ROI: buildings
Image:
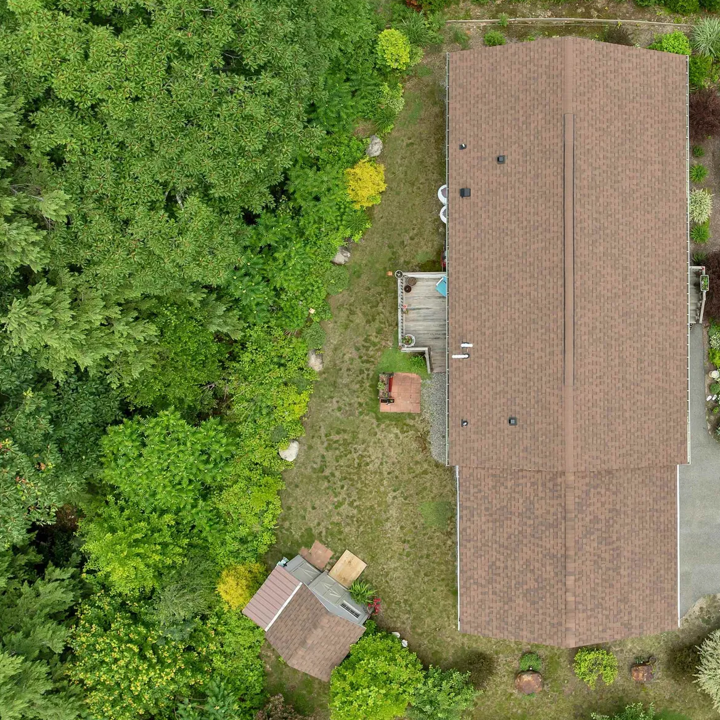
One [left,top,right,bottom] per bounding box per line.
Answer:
[447,35,690,646]
[243,556,376,680]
